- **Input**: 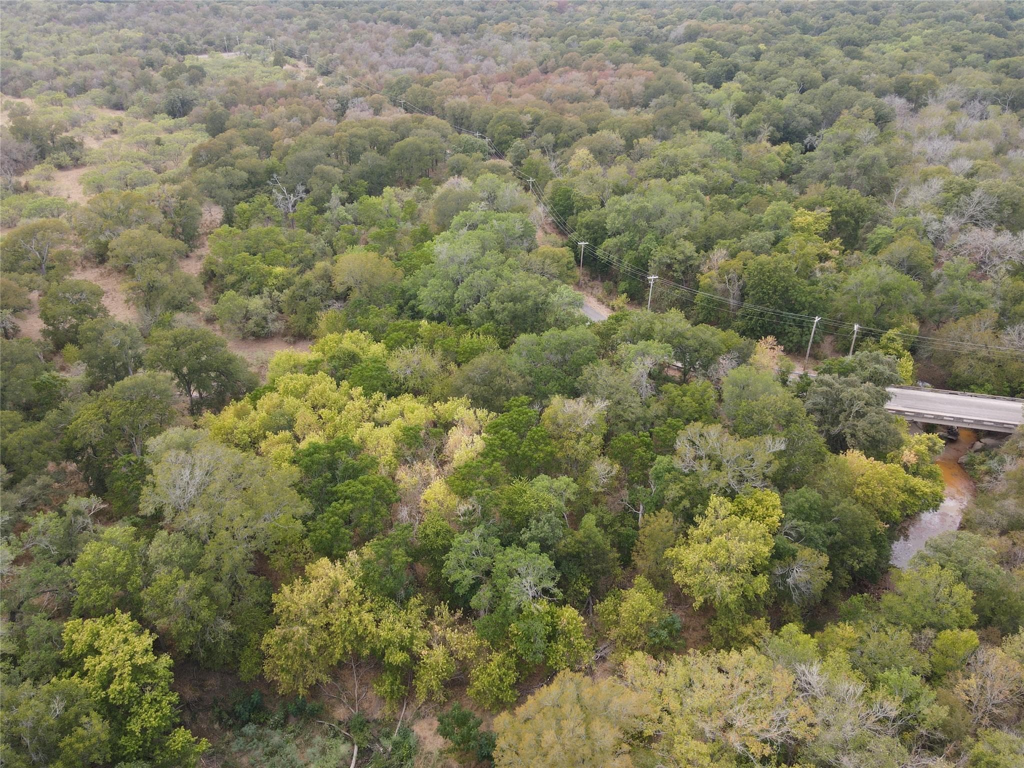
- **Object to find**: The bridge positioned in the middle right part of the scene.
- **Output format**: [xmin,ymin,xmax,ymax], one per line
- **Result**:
[887,381,1024,453]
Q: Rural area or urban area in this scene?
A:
rural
